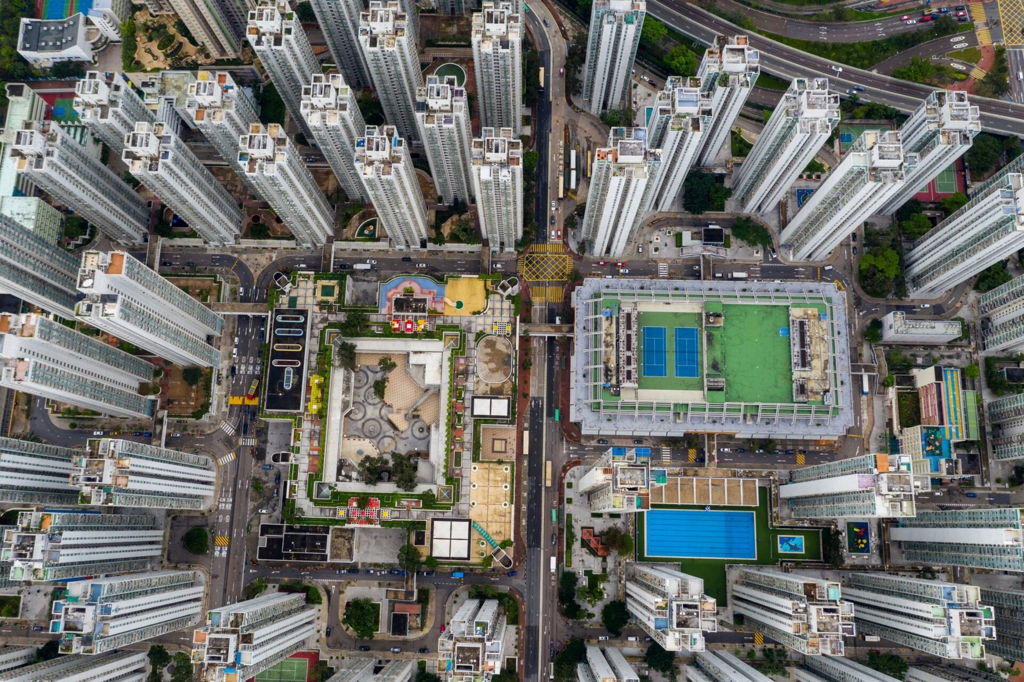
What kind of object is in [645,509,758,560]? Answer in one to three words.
swimming pool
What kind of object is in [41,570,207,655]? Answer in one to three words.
building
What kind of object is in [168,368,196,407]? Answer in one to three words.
sports court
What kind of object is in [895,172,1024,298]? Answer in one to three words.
building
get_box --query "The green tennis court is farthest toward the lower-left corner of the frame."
[254,650,320,682]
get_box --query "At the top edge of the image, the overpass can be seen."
[645,0,1024,137]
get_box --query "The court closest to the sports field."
[673,328,700,377]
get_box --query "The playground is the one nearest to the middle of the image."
[380,276,490,315]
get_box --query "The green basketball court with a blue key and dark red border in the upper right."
[835,122,895,159]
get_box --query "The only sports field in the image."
[723,304,792,402]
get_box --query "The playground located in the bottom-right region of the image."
[847,522,870,553]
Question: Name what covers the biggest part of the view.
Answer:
buildings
